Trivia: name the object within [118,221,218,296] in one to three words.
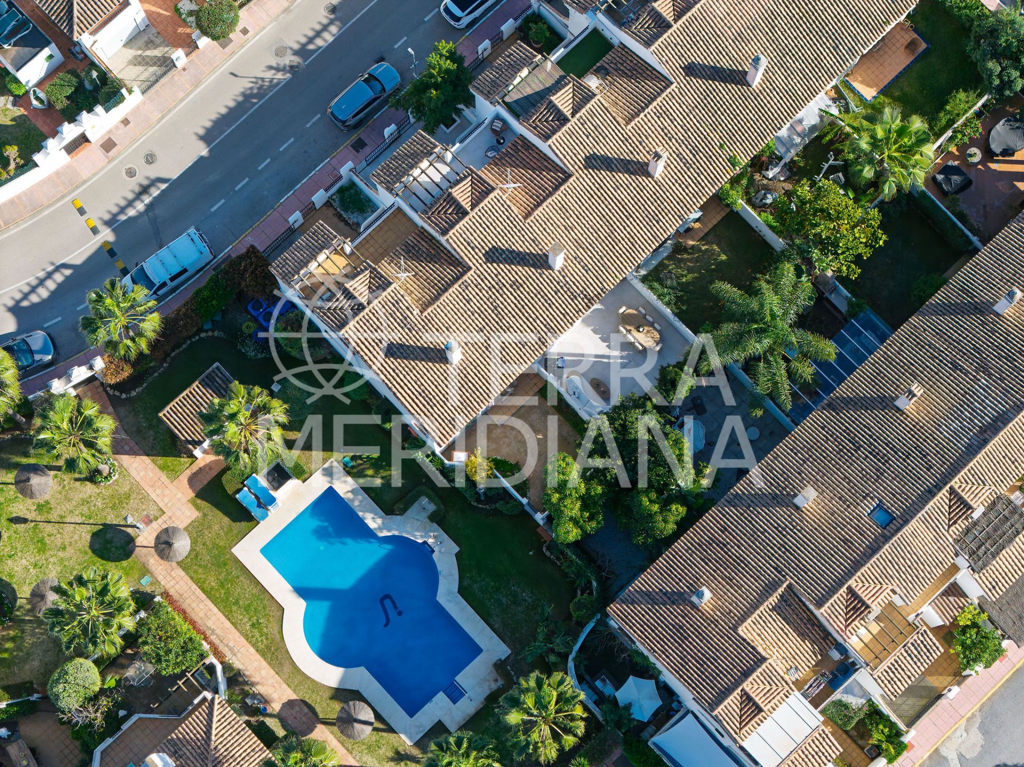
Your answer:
van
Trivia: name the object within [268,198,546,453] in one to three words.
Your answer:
house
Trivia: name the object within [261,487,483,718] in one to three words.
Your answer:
swimming pool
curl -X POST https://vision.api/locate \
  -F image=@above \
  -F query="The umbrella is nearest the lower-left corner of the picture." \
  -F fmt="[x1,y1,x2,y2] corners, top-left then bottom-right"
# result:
[26,579,62,614]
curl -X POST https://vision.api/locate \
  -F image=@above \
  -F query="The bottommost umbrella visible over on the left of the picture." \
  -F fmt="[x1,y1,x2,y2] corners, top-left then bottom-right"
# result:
[336,700,375,741]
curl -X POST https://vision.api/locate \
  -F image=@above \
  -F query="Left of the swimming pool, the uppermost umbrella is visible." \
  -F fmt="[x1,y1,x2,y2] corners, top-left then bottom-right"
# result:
[15,463,52,501]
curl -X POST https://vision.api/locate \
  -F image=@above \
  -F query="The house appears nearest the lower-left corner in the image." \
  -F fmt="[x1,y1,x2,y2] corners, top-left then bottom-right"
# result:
[93,656,284,767]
